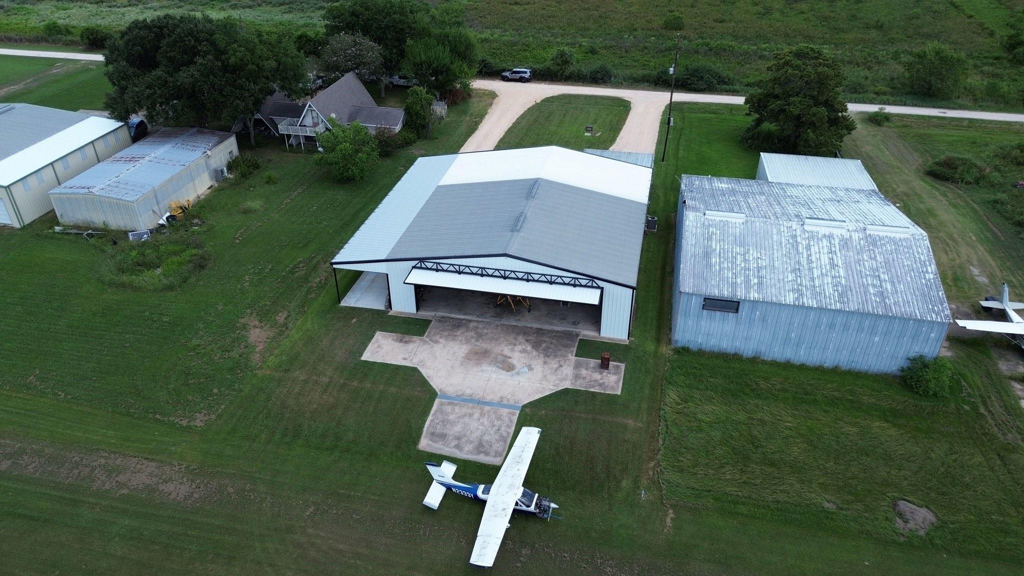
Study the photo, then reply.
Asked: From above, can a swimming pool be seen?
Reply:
No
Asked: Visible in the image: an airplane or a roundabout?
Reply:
airplane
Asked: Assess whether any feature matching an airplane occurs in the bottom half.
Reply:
Yes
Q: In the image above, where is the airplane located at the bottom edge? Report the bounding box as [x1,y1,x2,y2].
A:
[421,426,561,568]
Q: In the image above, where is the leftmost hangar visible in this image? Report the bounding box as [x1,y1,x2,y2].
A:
[0,102,134,228]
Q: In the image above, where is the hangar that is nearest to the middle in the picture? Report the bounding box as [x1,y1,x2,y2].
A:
[329,144,655,340]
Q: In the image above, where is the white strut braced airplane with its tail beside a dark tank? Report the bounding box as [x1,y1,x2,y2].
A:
[956,289,1024,354]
